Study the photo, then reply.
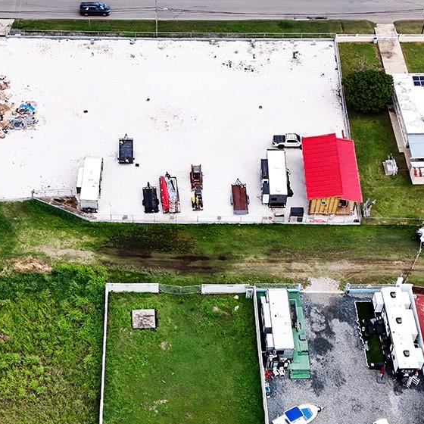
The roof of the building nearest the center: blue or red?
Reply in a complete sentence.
The roof of the building nearest the center is red.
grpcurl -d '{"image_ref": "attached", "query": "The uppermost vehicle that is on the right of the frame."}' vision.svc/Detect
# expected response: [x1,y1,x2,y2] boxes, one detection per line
[272,133,303,152]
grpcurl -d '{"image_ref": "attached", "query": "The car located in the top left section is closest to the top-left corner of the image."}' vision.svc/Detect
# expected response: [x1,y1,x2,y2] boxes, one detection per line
[79,0,111,17]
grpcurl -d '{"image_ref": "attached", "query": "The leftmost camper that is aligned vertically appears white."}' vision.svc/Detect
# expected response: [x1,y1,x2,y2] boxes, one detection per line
[76,159,102,213]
